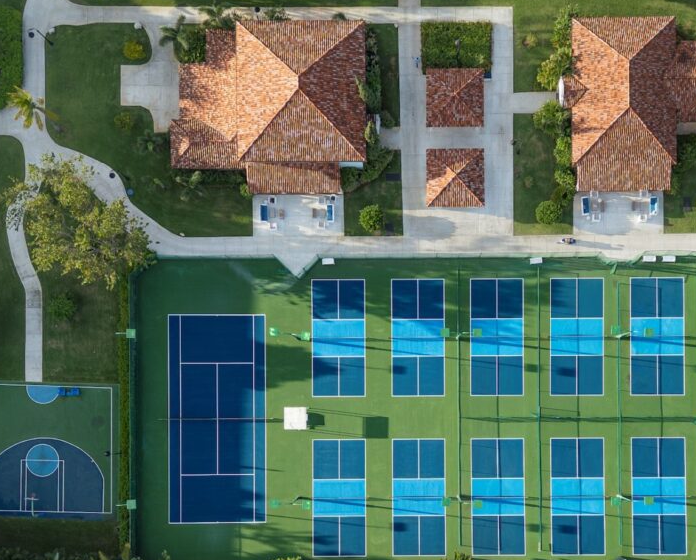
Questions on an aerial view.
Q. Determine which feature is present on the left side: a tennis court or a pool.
tennis court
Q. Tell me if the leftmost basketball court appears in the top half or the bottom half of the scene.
bottom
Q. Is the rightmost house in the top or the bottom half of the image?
top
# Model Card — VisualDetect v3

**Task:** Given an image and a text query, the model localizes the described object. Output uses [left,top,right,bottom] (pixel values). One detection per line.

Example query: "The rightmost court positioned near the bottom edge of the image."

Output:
[629,437,693,556]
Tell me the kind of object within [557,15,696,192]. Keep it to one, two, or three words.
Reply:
house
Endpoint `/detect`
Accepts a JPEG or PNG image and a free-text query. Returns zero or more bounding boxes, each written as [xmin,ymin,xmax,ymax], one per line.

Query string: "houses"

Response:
[557,15,696,192]
[170,19,380,195]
